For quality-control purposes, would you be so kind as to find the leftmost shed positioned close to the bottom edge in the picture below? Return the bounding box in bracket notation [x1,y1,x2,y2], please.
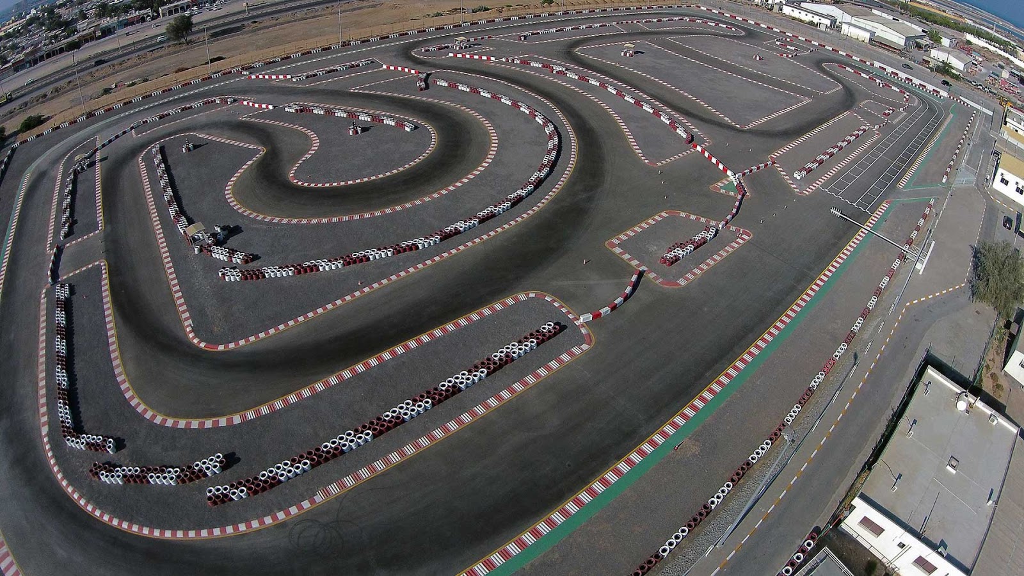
[795,547,853,576]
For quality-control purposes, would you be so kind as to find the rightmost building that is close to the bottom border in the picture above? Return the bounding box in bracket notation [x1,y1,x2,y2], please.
[826,367,1018,576]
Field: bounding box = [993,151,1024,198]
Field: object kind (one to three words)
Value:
building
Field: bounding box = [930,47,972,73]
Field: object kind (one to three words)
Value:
building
